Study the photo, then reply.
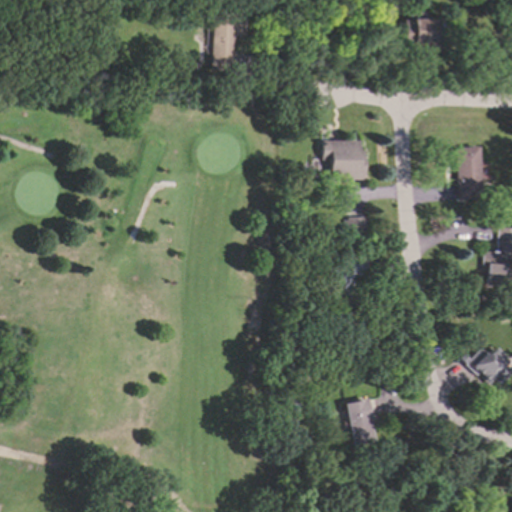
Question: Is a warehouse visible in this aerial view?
No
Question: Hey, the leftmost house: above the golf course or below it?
above it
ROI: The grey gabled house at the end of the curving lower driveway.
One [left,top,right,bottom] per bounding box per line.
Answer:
[346,396,378,444]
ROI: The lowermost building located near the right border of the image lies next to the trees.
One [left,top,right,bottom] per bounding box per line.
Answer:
[460,347,510,387]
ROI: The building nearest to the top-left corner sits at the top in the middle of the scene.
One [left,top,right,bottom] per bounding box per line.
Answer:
[213,22,235,57]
